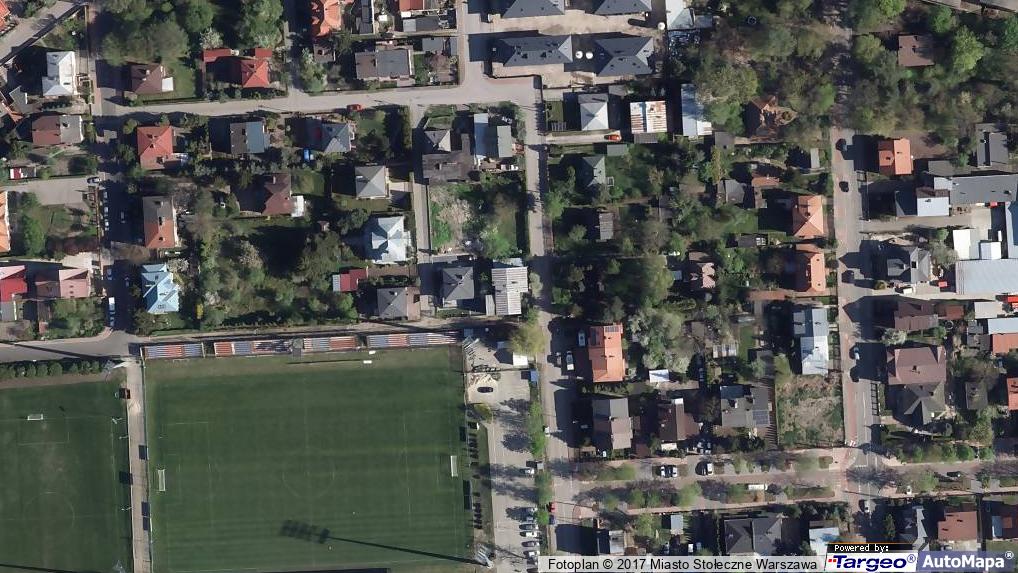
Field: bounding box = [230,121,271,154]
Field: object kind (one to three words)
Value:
house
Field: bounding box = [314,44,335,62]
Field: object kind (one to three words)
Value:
shed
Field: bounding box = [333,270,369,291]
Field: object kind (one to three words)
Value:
building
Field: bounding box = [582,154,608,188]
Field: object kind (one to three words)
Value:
house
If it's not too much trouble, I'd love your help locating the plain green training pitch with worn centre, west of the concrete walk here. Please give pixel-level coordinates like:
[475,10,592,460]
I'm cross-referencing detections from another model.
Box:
[0,382,133,573]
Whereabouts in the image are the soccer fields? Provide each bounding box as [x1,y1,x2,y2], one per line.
[0,382,133,573]
[144,343,476,573]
